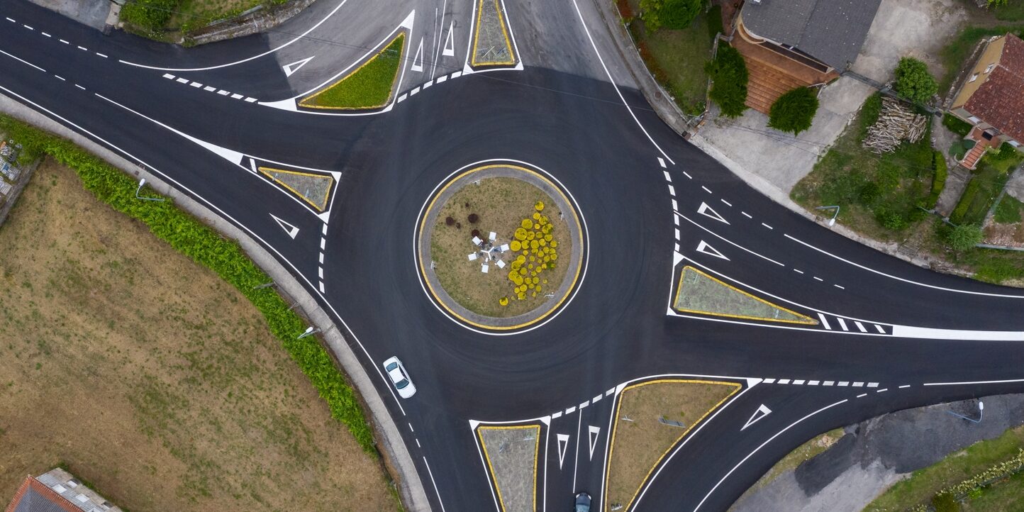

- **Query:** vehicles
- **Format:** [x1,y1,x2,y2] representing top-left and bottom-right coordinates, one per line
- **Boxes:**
[574,493,593,512]
[384,356,416,398]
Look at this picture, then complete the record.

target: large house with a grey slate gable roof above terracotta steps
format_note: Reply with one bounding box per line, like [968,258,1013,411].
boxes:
[735,0,878,74]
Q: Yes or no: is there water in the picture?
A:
No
